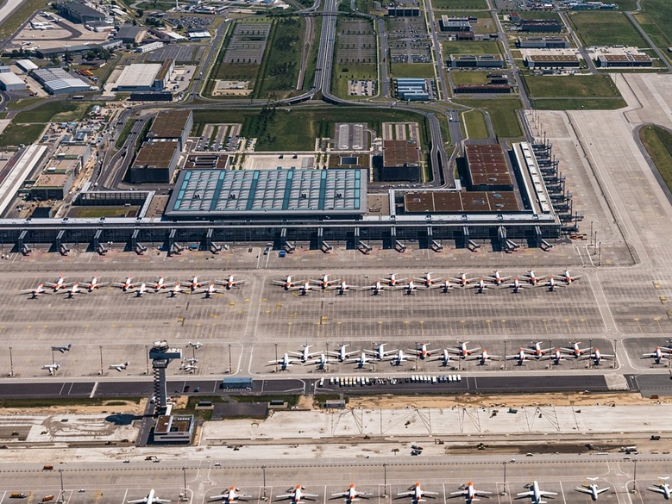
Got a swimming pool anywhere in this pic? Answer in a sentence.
No, there's no swimming pool here.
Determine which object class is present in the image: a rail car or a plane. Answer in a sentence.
There is a plane in the scene.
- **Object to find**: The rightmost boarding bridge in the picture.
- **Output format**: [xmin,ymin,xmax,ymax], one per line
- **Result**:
[541,233,561,246]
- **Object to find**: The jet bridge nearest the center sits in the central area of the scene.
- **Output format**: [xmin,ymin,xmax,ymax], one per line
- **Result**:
[324,235,344,247]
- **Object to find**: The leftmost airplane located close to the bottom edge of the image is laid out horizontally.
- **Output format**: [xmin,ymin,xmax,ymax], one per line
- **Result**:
[127,487,171,504]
